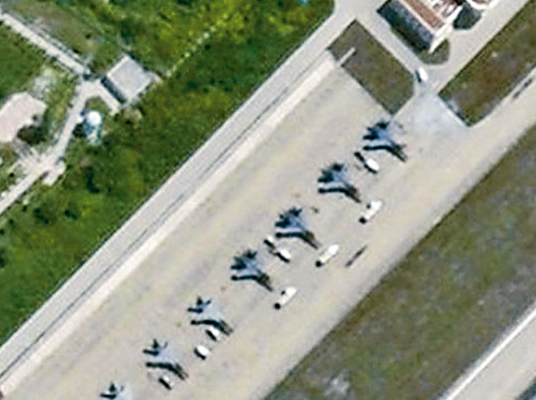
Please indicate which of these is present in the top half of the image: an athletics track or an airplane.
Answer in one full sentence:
The feature located in the top half of the image is an airplane.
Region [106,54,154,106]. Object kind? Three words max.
shed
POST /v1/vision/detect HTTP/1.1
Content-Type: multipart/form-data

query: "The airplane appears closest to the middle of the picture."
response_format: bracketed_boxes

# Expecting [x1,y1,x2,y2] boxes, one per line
[273,200,320,242]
